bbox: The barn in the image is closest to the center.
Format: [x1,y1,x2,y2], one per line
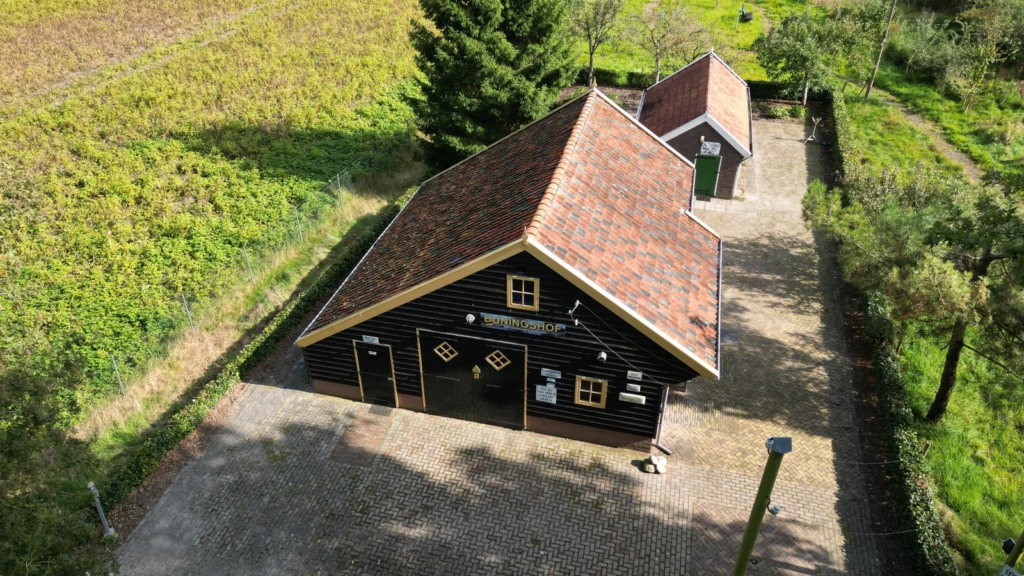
[289,80,727,464]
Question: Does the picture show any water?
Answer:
No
